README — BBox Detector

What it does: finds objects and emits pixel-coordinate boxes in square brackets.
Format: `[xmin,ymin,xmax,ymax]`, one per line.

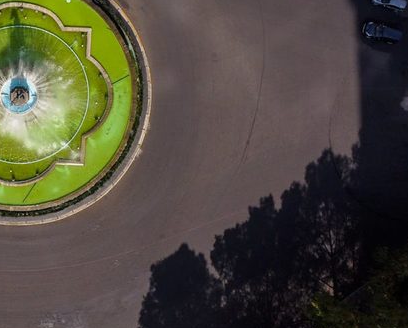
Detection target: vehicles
[360,20,403,42]
[367,0,408,12]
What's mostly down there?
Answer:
paved ground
